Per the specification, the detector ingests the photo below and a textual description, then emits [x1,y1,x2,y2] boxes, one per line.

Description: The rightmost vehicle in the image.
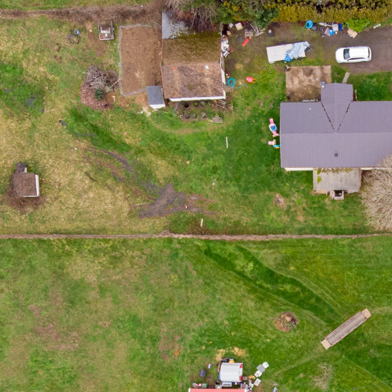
[335,45,372,65]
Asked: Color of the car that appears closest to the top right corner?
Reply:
white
